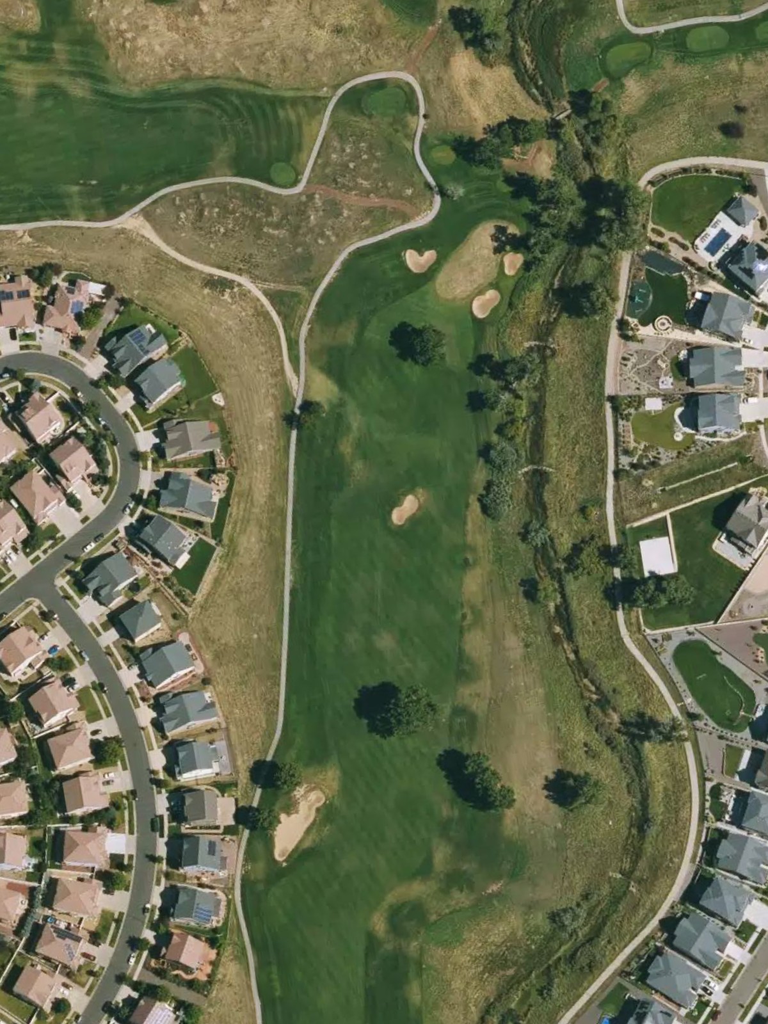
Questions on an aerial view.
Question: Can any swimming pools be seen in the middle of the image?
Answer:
No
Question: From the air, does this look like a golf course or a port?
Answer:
golf course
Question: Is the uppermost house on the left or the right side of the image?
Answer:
right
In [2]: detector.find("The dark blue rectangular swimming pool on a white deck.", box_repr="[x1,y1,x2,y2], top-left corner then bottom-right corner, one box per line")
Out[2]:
[703,228,733,257]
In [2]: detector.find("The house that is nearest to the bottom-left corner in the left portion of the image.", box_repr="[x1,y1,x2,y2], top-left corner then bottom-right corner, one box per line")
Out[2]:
[12,965,57,1009]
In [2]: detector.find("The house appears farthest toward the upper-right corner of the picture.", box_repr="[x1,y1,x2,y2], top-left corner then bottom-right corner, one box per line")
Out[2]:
[725,196,758,230]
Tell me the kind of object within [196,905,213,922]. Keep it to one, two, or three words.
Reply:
solar panel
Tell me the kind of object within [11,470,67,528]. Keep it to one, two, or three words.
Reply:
house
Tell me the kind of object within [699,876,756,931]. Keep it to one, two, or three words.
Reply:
house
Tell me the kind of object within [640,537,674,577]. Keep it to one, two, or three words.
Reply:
sports court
